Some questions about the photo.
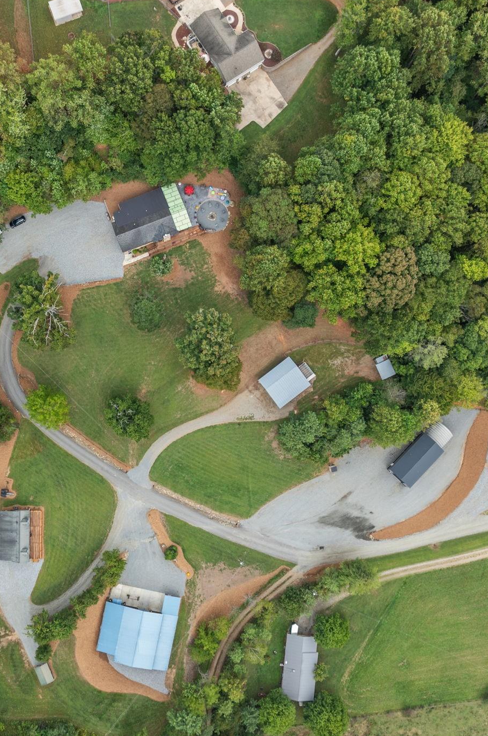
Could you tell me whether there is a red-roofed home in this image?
No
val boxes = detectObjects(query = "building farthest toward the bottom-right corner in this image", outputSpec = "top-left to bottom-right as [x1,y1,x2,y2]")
[280,631,318,706]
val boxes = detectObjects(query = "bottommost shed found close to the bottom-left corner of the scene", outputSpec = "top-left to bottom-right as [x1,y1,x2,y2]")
[34,662,55,685]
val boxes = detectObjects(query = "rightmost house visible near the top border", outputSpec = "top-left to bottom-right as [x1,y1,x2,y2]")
[190,9,264,87]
